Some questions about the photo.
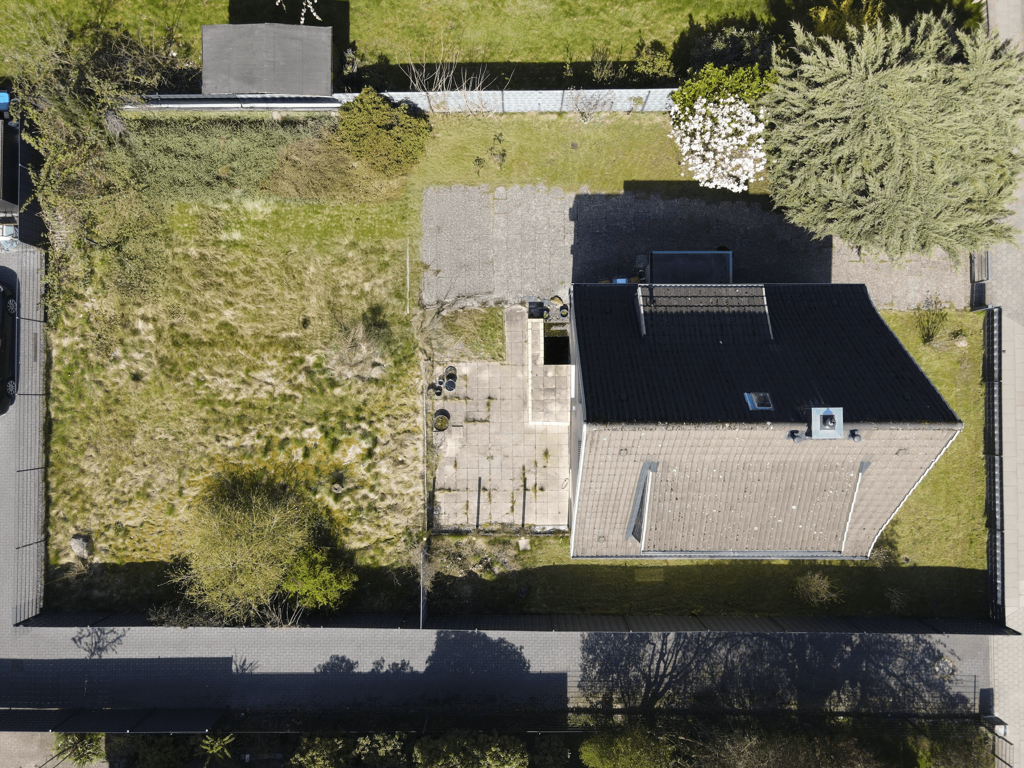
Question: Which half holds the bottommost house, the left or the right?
right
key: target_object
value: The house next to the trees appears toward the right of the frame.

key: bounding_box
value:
[565,252,968,561]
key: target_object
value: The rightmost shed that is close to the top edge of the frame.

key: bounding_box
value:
[201,24,345,99]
